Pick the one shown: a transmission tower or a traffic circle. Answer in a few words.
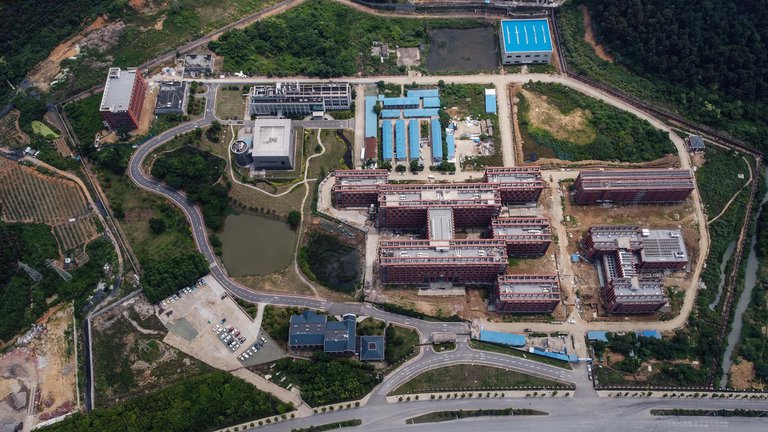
transmission tower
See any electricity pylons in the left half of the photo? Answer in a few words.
Yes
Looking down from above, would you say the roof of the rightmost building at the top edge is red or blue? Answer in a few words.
blue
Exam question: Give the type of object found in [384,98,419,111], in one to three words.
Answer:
shed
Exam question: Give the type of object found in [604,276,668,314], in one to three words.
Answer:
building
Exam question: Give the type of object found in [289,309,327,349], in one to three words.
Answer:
house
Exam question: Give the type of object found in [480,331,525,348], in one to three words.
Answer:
shed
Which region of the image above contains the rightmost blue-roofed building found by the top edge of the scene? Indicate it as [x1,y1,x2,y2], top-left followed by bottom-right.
[499,18,554,64]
